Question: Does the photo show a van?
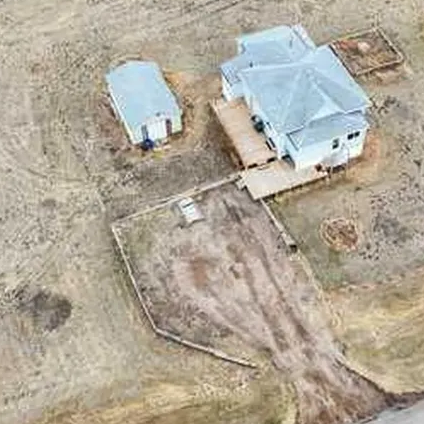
No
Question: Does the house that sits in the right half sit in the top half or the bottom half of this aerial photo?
top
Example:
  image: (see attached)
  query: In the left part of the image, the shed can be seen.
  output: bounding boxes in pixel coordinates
[105,60,184,143]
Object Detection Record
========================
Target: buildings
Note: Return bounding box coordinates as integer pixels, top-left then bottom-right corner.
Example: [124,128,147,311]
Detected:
[105,60,184,143]
[218,22,375,168]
